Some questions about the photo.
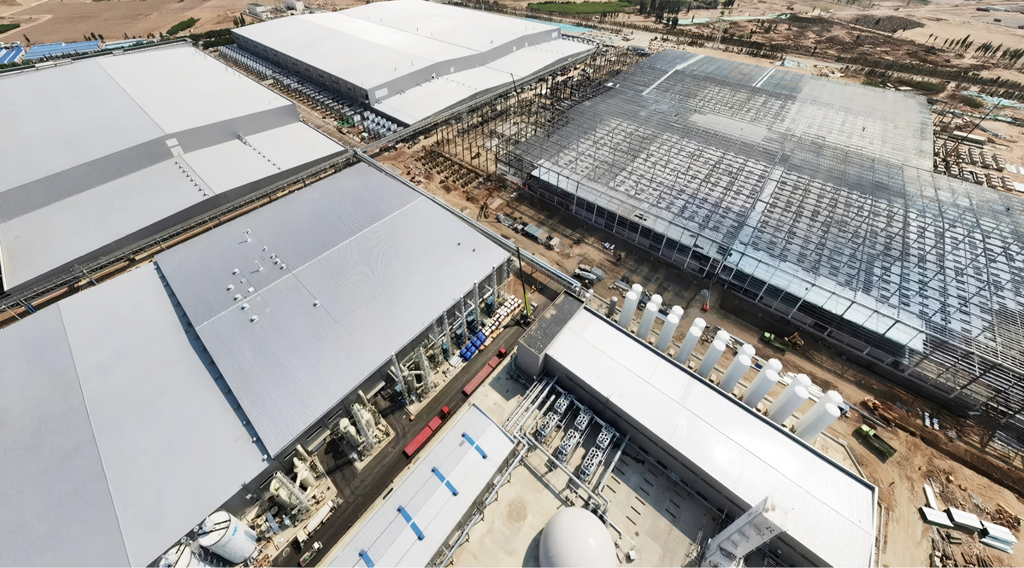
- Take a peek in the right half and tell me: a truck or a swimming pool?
truck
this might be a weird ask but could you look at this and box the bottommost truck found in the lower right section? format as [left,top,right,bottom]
[863,425,910,461]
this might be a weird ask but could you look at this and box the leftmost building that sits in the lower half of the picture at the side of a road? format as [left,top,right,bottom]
[0,258,278,568]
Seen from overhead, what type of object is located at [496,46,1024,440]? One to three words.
building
